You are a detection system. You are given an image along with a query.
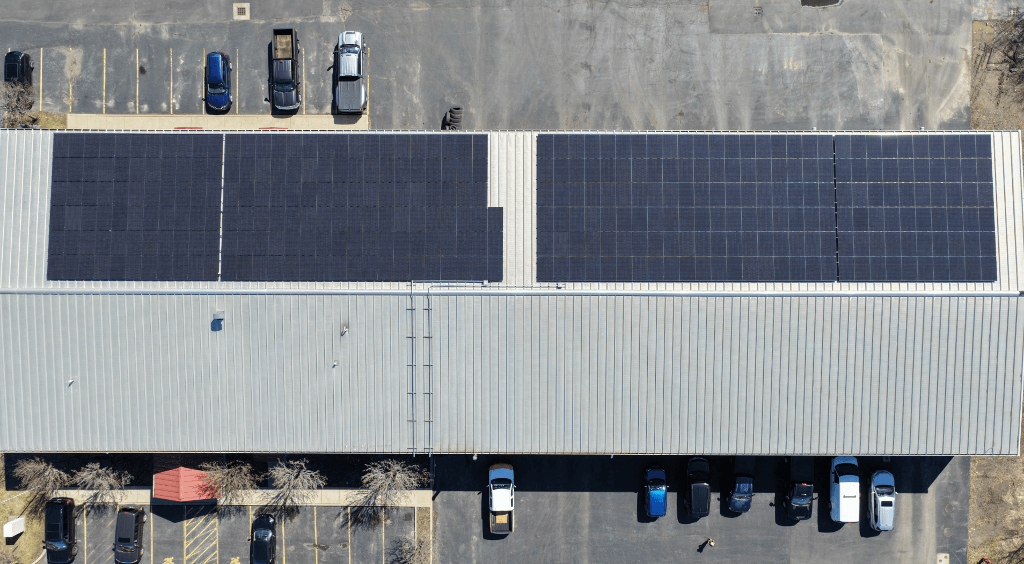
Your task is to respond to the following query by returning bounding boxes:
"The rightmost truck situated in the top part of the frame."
[332,30,367,114]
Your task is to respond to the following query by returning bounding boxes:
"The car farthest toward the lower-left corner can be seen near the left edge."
[42,496,77,562]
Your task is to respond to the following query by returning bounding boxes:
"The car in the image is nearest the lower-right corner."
[867,470,898,532]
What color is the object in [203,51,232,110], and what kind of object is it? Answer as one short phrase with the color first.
blue car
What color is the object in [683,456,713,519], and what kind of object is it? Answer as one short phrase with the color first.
black car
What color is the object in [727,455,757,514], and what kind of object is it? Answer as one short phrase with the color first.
black truck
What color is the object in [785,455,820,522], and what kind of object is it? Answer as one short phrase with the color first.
black truck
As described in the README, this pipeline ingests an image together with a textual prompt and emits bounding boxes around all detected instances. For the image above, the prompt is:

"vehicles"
[203,51,232,110]
[267,29,302,109]
[332,30,367,114]
[111,501,146,564]
[683,456,713,519]
[42,496,77,562]
[0,48,33,108]
[867,470,898,532]
[247,513,276,564]
[785,455,820,522]
[486,462,516,534]
[727,455,757,514]
[642,465,669,519]
[828,455,861,524]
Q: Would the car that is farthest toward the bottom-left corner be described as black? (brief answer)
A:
Yes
